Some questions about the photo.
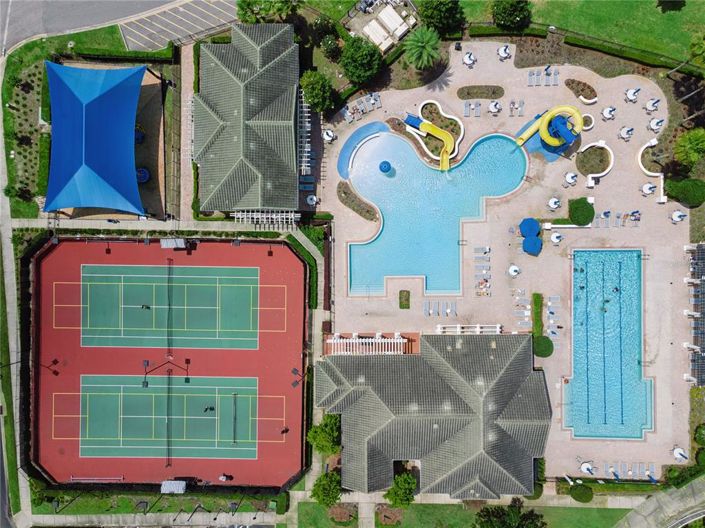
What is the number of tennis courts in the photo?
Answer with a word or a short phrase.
2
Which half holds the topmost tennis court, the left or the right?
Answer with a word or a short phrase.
left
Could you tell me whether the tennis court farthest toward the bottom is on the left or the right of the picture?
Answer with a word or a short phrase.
left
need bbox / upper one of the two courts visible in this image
[34,242,304,363]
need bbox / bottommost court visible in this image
[34,361,304,486]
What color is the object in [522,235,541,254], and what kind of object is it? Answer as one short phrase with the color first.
blue umbrella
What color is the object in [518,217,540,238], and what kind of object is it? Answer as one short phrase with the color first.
blue umbrella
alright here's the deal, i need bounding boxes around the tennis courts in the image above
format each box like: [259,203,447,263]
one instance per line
[34,361,304,486]
[34,242,304,363]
